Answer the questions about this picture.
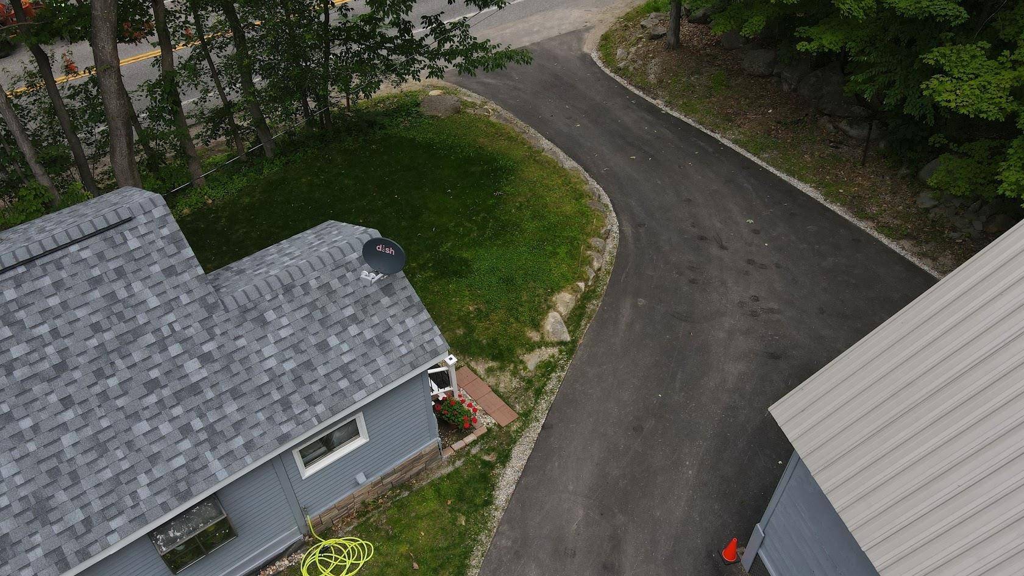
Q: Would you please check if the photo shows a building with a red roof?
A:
No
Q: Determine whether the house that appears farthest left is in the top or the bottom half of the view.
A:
bottom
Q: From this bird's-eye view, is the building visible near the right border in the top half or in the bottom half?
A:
bottom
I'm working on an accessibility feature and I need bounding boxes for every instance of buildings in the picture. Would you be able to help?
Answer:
[742,216,1024,576]
[0,186,452,576]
